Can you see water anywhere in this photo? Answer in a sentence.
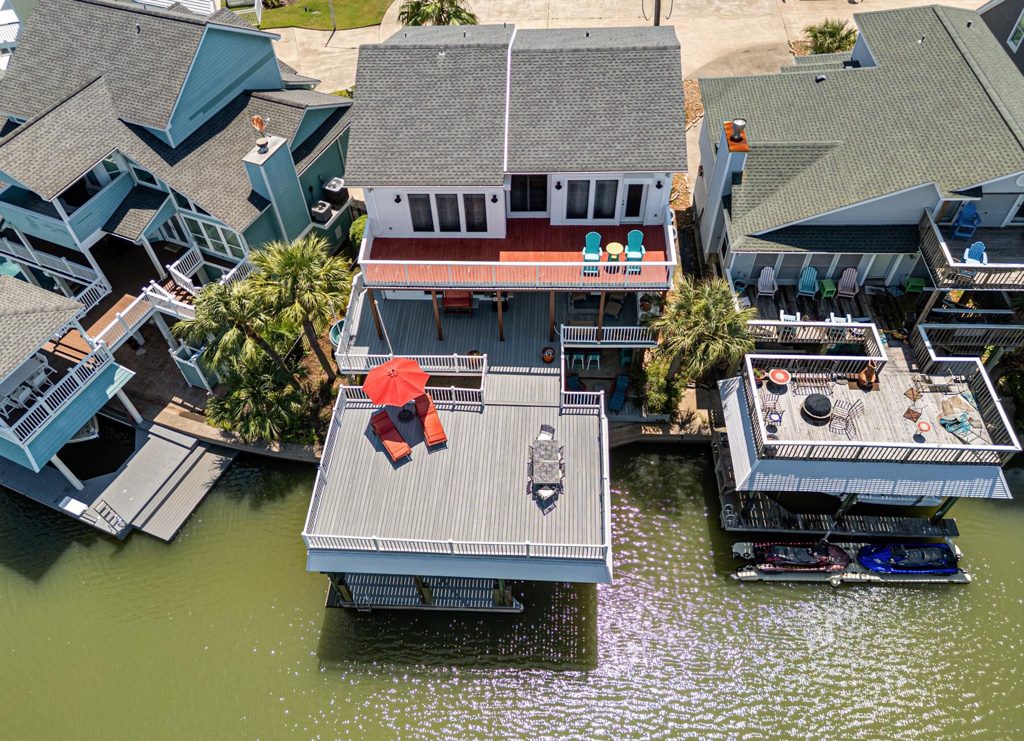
Yes, there is water in the image.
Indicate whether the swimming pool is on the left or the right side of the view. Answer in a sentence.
The swimming pool appears in the left half of the scene.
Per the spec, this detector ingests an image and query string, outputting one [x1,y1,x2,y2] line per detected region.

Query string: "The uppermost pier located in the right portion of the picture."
[712,422,958,544]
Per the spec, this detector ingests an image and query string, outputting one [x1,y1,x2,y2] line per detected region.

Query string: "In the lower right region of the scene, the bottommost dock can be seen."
[730,545,971,591]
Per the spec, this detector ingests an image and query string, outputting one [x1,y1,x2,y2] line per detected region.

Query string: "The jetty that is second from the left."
[325,549,524,623]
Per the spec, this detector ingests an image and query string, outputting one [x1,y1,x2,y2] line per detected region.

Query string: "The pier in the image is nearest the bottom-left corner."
[0,435,238,549]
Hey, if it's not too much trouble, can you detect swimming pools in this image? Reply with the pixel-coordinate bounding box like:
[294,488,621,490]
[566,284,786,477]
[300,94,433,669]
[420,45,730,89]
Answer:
[0,261,47,290]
